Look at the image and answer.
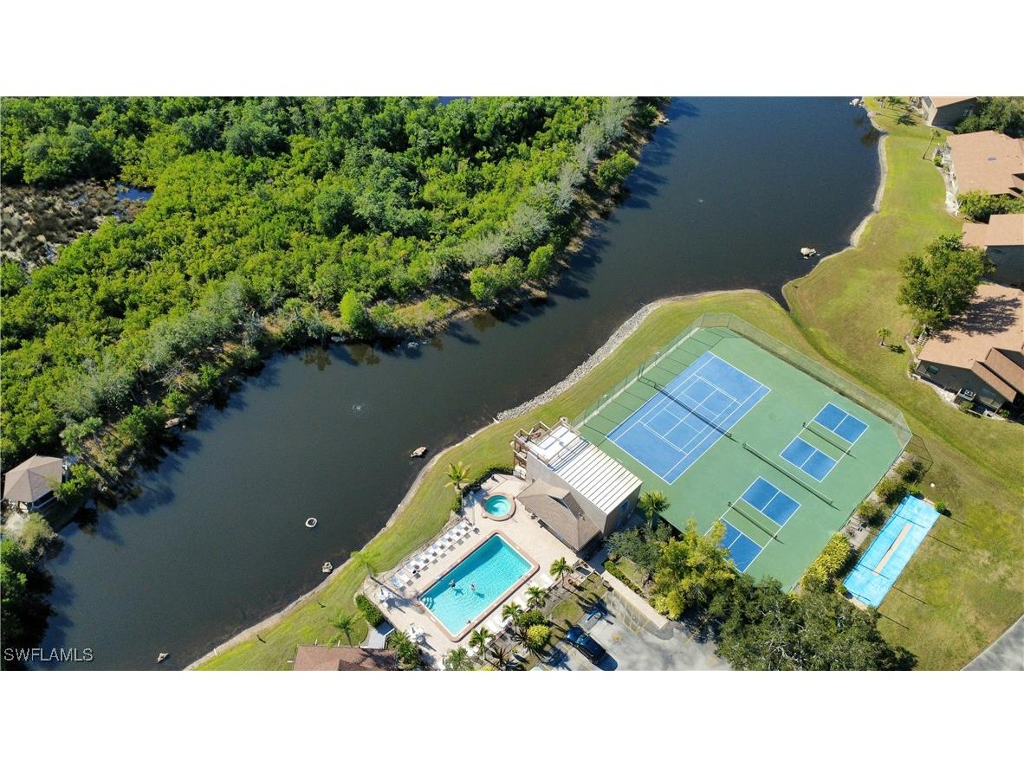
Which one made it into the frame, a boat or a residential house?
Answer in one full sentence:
I can see a residential house in this picture.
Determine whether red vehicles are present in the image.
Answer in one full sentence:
No, no red vehicle is visible in the view.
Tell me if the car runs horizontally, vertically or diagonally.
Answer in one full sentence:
The car is laid out diagonally.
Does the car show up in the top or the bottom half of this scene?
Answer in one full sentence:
You can find the car in the bottom half.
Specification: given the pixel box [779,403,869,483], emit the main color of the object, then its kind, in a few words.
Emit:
blue sports court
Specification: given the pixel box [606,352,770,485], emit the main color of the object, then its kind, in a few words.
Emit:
blue tennis court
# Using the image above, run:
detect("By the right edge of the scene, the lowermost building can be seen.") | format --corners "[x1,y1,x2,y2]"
[914,282,1024,418]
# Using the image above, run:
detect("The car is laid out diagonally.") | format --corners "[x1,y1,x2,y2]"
[565,627,607,667]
